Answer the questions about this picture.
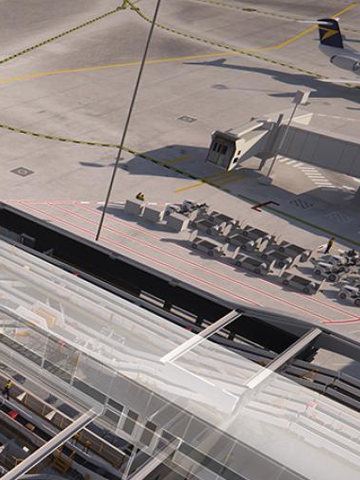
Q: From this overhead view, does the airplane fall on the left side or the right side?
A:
right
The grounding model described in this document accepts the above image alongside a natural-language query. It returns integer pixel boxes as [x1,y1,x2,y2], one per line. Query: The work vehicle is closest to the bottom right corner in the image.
[333,281,360,305]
